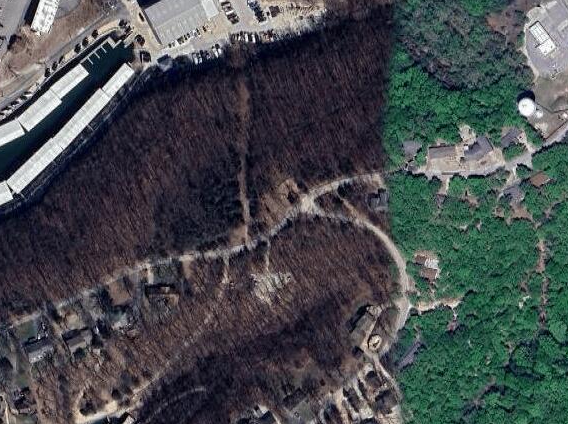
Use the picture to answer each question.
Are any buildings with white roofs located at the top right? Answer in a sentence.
Yes, the scene does show a building with a white roof at the top right.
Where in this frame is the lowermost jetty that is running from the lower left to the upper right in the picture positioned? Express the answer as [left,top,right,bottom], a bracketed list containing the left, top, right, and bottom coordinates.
[7,137,63,199]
